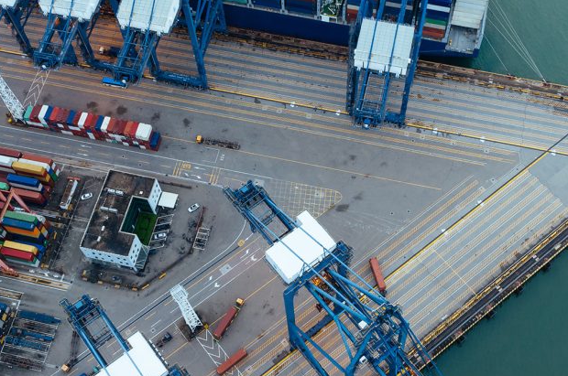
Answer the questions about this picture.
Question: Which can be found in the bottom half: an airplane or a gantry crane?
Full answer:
The one visible in the bottom half is a gantry crane.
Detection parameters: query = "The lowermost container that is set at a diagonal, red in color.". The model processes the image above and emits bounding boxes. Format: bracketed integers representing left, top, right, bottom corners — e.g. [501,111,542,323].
[215,348,247,376]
